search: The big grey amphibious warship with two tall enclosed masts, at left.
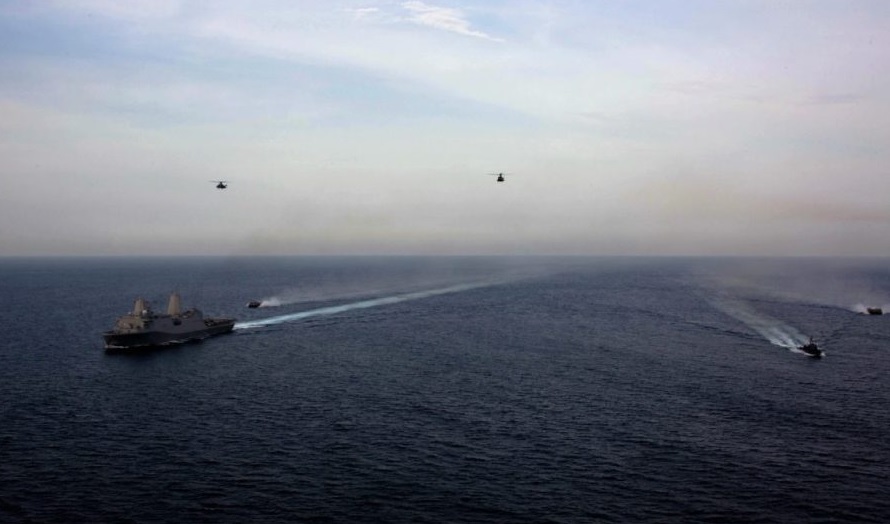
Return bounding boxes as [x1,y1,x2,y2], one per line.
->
[103,292,239,347]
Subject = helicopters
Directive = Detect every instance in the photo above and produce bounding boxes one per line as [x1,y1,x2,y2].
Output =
[495,173,512,181]
[216,182,231,189]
